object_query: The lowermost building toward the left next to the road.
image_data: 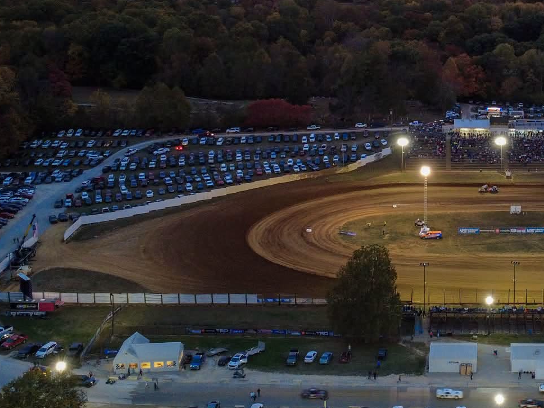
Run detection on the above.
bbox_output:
[114,327,194,374]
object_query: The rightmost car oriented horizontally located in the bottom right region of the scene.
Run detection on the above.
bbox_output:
[518,396,544,408]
